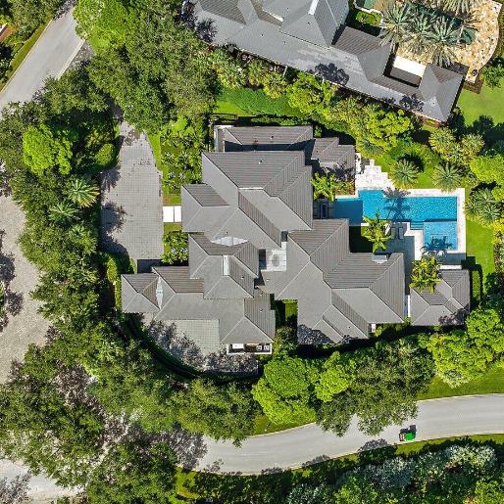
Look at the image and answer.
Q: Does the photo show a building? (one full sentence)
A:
Yes, a building is visible in the scene.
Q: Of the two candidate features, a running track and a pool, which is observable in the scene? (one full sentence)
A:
This aerial view contains a pool.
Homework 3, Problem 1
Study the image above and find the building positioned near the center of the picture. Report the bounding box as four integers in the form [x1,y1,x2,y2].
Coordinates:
[121,125,410,345]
